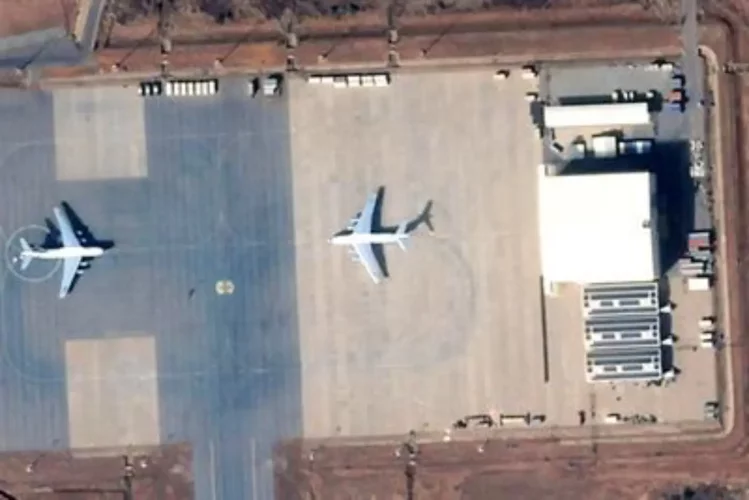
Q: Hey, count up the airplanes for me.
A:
2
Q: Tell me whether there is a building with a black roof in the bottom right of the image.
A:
No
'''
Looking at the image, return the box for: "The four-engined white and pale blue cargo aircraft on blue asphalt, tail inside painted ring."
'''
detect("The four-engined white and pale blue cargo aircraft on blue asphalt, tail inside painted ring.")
[19,207,105,298]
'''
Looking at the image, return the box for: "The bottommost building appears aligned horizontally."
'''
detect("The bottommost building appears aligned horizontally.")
[587,347,662,383]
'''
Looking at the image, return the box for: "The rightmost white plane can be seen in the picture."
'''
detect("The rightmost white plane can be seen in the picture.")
[330,192,411,284]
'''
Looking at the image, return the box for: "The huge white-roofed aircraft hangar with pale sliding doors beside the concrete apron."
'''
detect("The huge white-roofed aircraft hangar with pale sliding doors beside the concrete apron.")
[541,164,671,293]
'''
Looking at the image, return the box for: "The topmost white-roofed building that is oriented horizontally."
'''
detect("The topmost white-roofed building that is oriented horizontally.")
[545,103,650,127]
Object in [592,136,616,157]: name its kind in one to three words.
building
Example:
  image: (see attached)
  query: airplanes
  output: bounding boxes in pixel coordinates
[330,192,411,284]
[19,207,105,298]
